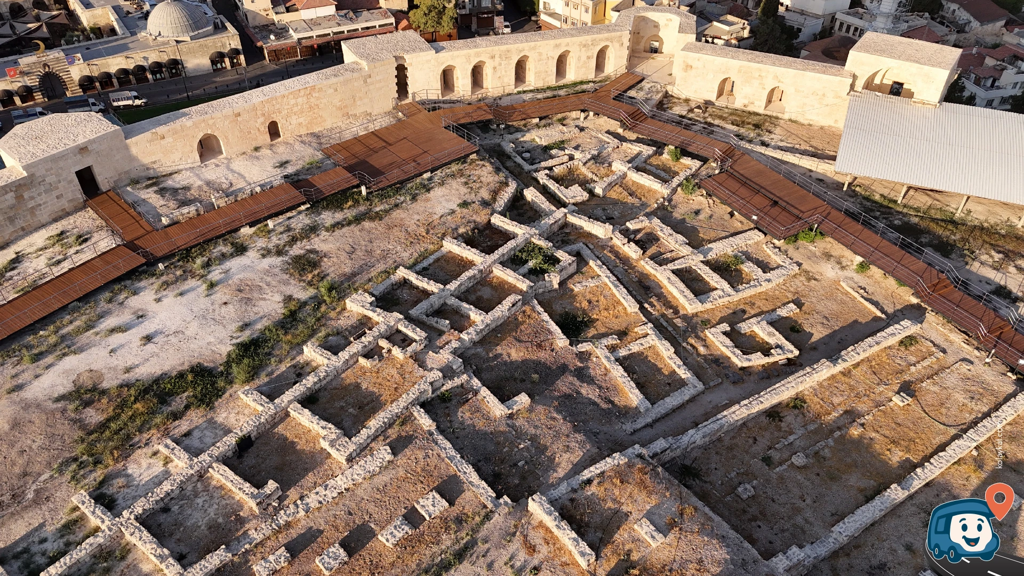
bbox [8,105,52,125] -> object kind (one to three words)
vehicle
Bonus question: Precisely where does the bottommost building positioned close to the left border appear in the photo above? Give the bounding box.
[0,112,138,222]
